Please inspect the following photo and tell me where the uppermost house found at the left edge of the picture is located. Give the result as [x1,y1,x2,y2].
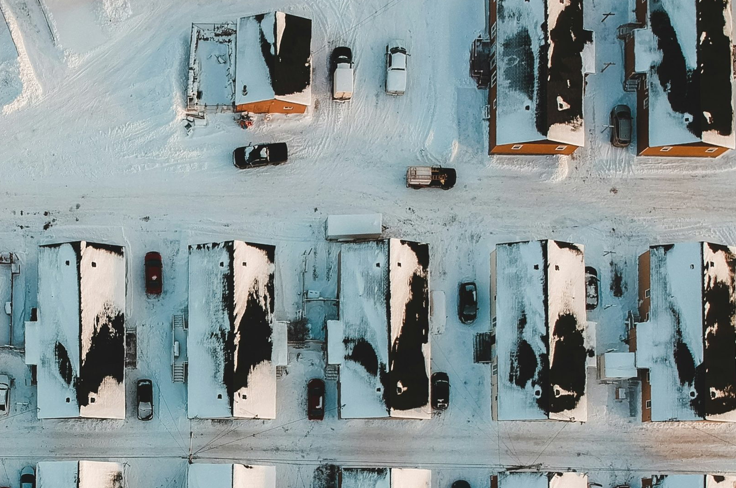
[25,239,136,419]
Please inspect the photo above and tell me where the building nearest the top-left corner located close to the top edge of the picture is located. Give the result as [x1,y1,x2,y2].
[236,10,313,115]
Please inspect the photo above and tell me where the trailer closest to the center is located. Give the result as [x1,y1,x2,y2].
[324,214,384,243]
